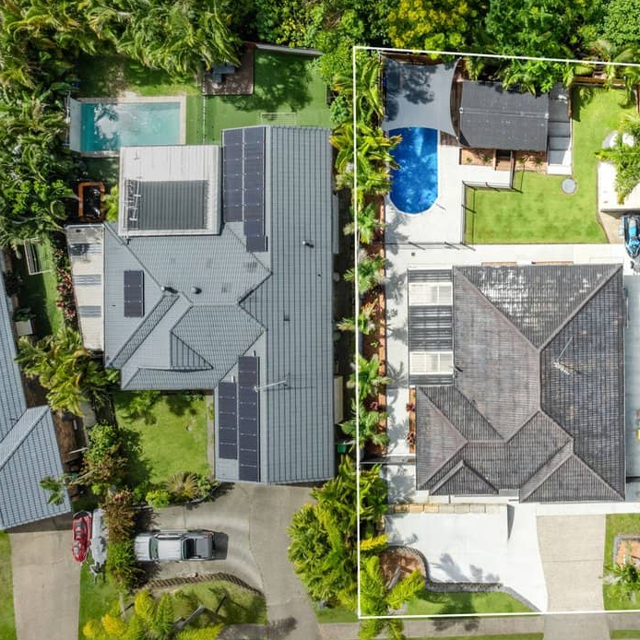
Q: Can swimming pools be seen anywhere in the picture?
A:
Yes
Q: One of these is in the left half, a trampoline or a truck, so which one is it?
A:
truck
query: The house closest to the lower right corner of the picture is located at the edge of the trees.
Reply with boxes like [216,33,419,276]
[415,263,627,505]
